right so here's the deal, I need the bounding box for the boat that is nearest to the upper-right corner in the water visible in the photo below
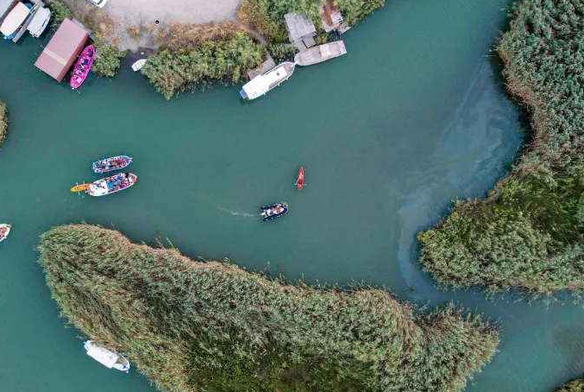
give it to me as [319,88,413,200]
[294,39,348,64]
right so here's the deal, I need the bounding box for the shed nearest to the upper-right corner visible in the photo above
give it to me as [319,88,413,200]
[319,0,343,33]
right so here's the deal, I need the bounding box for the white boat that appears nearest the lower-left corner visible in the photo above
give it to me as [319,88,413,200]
[84,340,129,369]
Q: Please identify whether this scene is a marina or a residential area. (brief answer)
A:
marina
